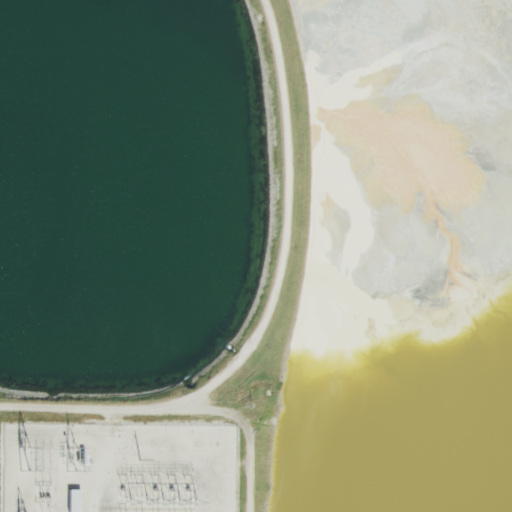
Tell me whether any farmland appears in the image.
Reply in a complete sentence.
No, there is no farmland in the image.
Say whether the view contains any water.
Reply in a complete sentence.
Yes, some water is visible.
